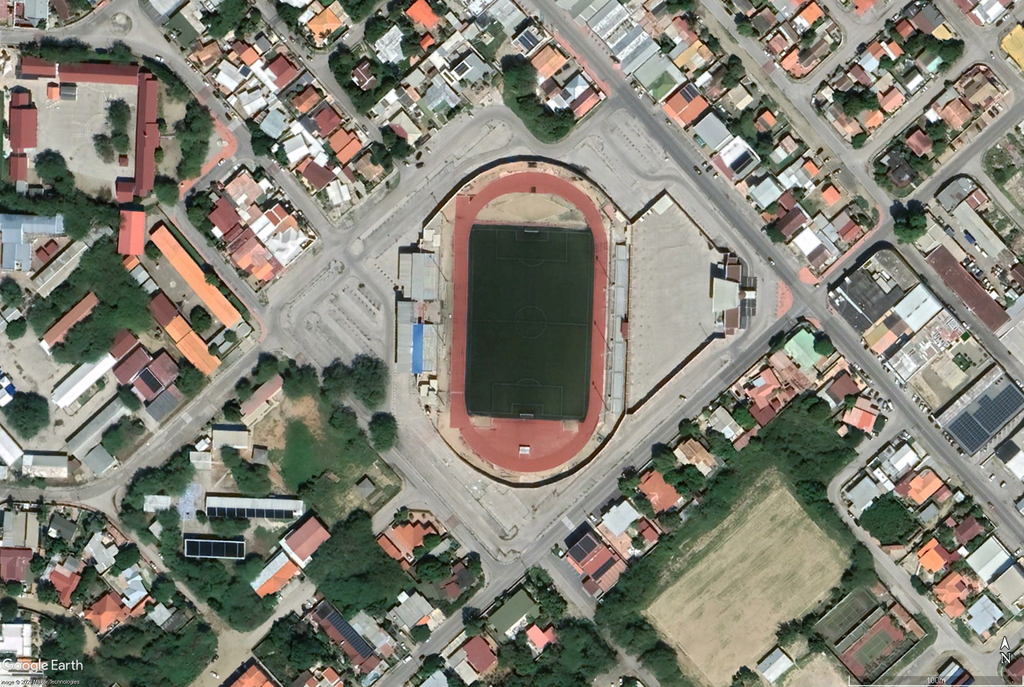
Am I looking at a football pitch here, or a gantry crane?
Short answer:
football pitch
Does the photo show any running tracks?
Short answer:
Yes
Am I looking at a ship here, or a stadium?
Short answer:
stadium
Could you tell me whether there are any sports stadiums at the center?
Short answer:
Yes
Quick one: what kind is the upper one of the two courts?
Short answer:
tennis court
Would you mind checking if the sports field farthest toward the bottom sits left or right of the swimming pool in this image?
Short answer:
on its right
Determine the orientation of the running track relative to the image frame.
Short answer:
from top to bottom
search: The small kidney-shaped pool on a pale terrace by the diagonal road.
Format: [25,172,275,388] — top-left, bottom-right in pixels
[362,662,389,687]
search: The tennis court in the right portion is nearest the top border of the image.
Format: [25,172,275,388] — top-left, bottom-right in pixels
[817,589,879,644]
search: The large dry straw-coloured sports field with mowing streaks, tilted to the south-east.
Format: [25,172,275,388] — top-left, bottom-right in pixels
[644,483,852,687]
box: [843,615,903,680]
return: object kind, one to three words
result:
tennis court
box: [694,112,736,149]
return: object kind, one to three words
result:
building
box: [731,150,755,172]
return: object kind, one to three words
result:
solar panel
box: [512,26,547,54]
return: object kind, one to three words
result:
house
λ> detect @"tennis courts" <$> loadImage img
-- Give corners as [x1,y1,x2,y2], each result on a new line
[817,589,879,644]
[843,615,903,680]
